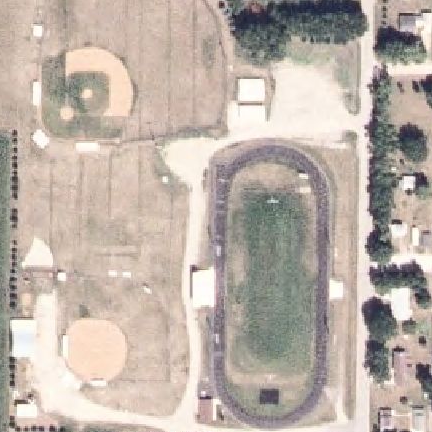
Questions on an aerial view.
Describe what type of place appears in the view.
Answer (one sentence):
This image shows a sports ground.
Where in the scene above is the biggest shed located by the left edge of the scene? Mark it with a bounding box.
[11,320,36,357]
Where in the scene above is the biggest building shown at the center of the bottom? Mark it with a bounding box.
[199,398,213,423]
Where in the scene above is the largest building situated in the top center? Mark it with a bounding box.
[240,78,266,103]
